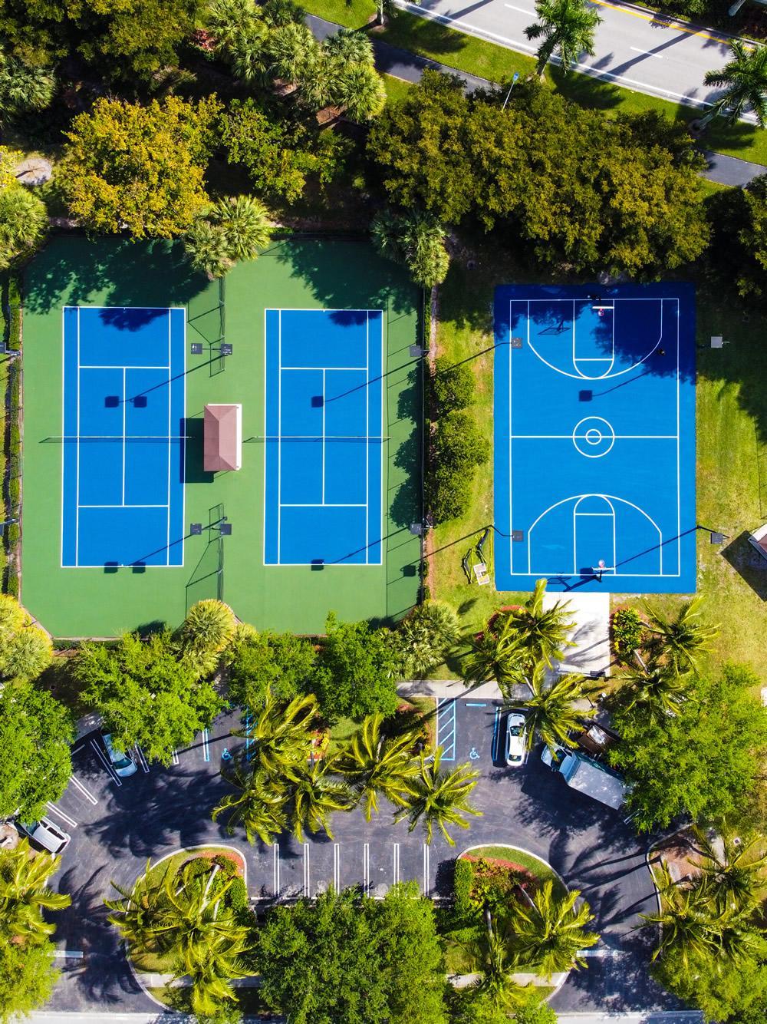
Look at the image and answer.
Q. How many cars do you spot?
3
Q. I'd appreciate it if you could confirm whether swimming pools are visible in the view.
No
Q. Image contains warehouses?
No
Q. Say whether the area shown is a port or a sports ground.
sports ground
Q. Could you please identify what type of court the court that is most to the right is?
basketball court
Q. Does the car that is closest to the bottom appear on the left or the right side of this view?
left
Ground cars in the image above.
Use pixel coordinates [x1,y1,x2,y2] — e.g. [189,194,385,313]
[95,731,136,780]
[14,809,69,855]
[505,713,526,768]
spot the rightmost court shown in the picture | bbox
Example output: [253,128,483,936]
[494,284,696,593]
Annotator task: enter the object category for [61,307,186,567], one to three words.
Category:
tennis court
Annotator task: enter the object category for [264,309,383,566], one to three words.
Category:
tennis court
